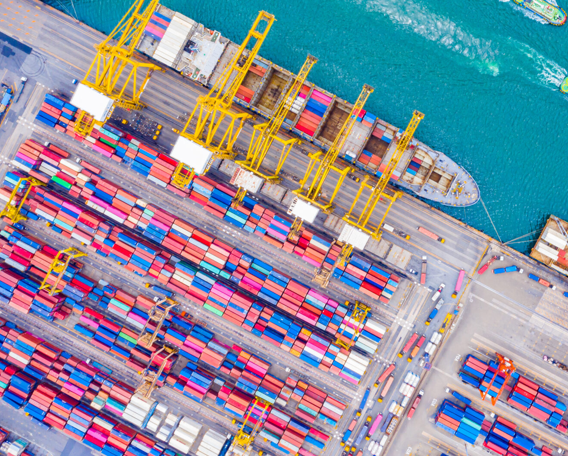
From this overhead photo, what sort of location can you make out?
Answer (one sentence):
This image shows a port.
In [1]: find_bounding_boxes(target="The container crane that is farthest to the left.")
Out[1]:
[0,175,53,222]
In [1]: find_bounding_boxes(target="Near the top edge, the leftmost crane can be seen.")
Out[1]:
[67,0,169,137]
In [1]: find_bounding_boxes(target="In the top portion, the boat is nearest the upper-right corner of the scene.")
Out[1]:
[511,0,567,27]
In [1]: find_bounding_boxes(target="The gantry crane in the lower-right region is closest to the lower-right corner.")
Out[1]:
[472,347,514,403]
